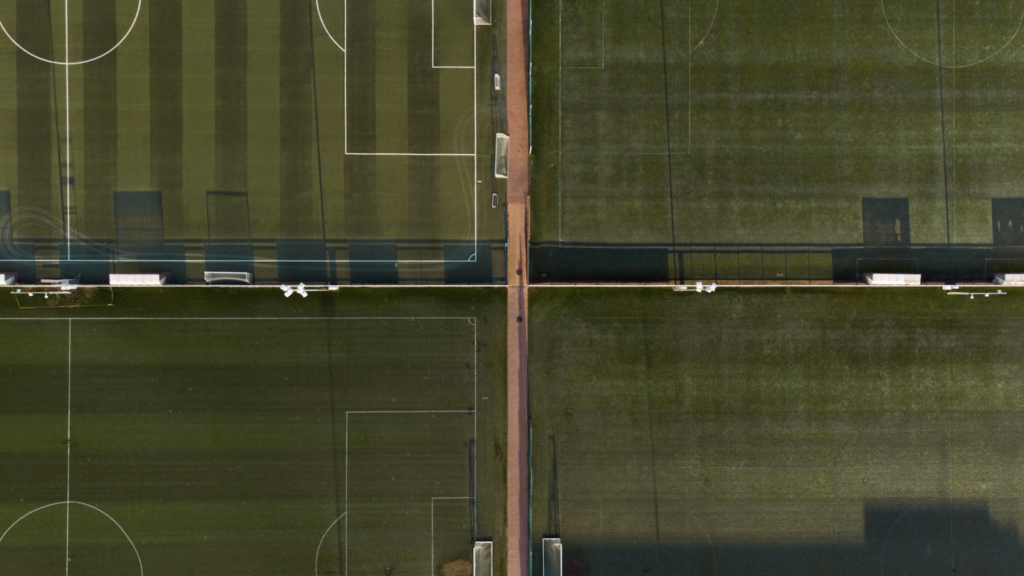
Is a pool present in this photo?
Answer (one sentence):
No, there is no pool in the image.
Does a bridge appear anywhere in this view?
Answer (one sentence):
No, this view has no bridge in it.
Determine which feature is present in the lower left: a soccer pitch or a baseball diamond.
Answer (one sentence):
What appears in the lower left is a soccer pitch.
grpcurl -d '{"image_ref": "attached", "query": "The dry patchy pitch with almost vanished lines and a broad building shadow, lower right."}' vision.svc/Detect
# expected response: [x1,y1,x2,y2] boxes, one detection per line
[529,286,1024,576]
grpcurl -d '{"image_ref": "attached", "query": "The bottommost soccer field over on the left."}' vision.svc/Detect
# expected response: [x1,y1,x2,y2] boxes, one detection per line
[0,285,508,576]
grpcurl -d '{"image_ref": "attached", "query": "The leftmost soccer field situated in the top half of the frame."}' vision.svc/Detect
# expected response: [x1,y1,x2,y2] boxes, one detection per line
[0,0,507,285]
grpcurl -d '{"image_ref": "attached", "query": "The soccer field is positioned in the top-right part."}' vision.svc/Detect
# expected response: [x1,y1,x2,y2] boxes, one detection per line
[529,0,1024,284]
